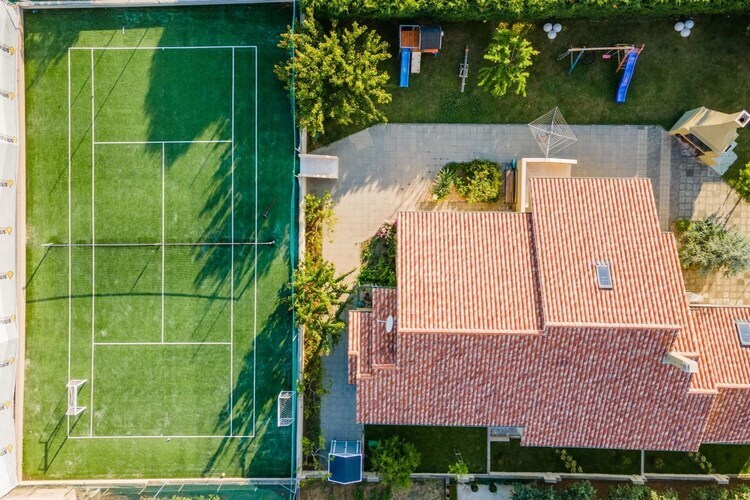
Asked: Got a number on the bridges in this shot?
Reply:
0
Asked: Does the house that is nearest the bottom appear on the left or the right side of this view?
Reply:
right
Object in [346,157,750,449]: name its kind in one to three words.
house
